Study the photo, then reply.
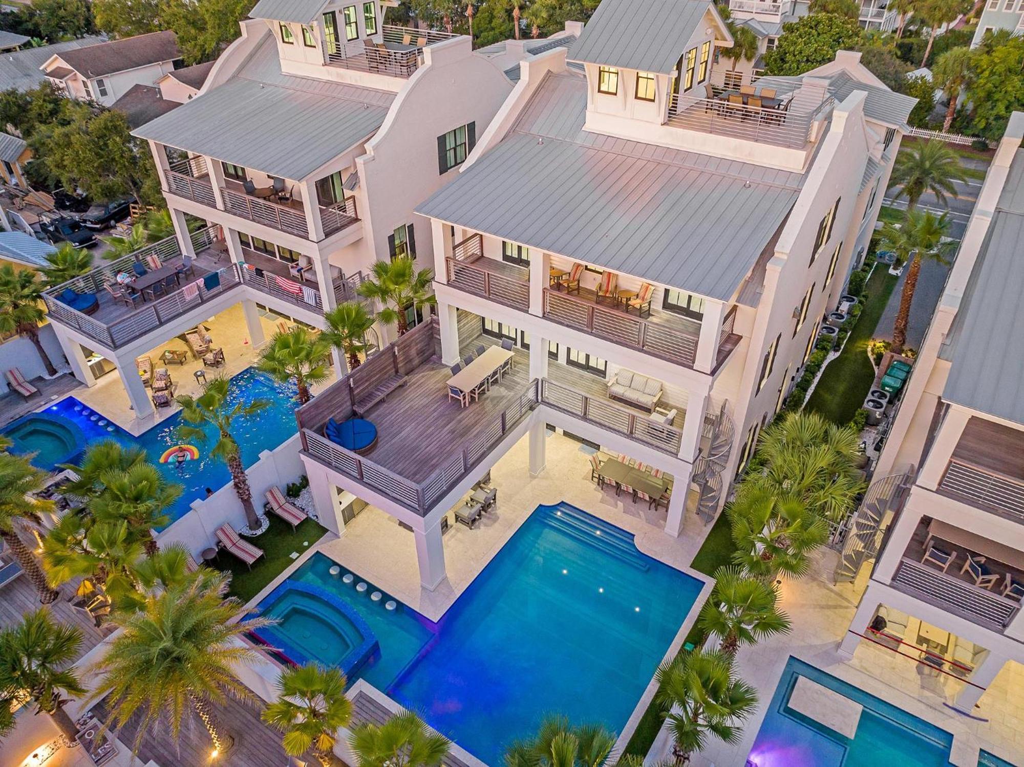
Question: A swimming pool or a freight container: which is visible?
swimming pool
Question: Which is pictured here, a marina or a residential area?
residential area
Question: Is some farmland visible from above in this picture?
No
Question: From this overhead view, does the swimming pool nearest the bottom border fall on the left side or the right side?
right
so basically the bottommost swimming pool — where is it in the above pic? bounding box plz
[743,653,963,767]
